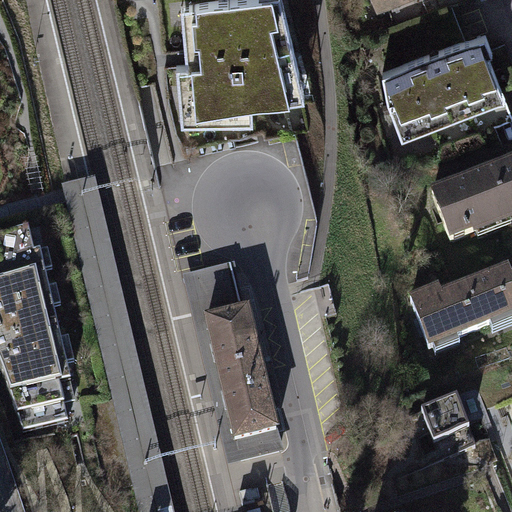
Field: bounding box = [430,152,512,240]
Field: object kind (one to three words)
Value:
house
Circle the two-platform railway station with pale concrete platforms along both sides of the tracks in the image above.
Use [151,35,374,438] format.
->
[26,0,298,512]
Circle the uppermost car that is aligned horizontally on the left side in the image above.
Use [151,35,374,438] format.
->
[170,220,194,233]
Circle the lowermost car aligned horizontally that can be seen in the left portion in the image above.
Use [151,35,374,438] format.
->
[177,243,200,255]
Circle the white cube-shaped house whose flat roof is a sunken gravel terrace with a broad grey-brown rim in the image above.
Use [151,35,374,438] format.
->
[419,390,476,457]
